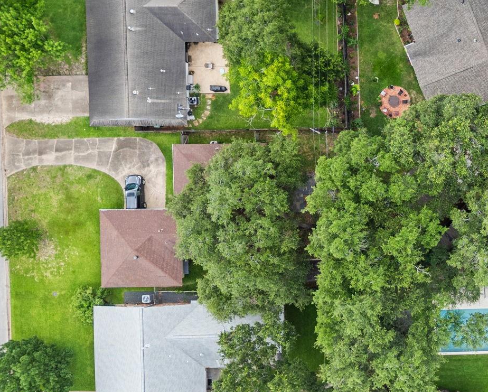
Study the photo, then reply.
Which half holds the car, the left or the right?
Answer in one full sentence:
It is on the left.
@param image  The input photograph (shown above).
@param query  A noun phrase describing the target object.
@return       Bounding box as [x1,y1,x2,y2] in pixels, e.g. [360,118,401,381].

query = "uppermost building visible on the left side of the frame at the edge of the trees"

[86,0,222,127]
